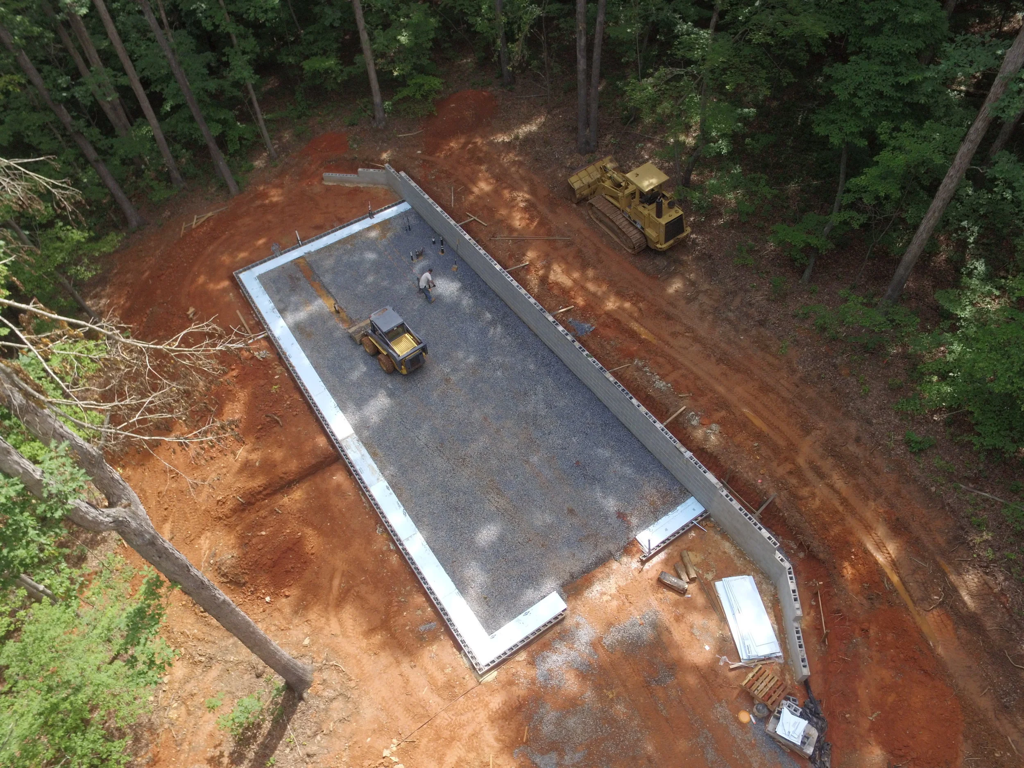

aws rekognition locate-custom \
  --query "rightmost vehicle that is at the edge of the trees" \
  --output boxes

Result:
[559,154,688,254]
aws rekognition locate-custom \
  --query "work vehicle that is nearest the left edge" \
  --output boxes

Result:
[346,306,423,377]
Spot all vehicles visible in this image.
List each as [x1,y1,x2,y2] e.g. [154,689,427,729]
[346,306,423,377]
[559,154,688,254]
